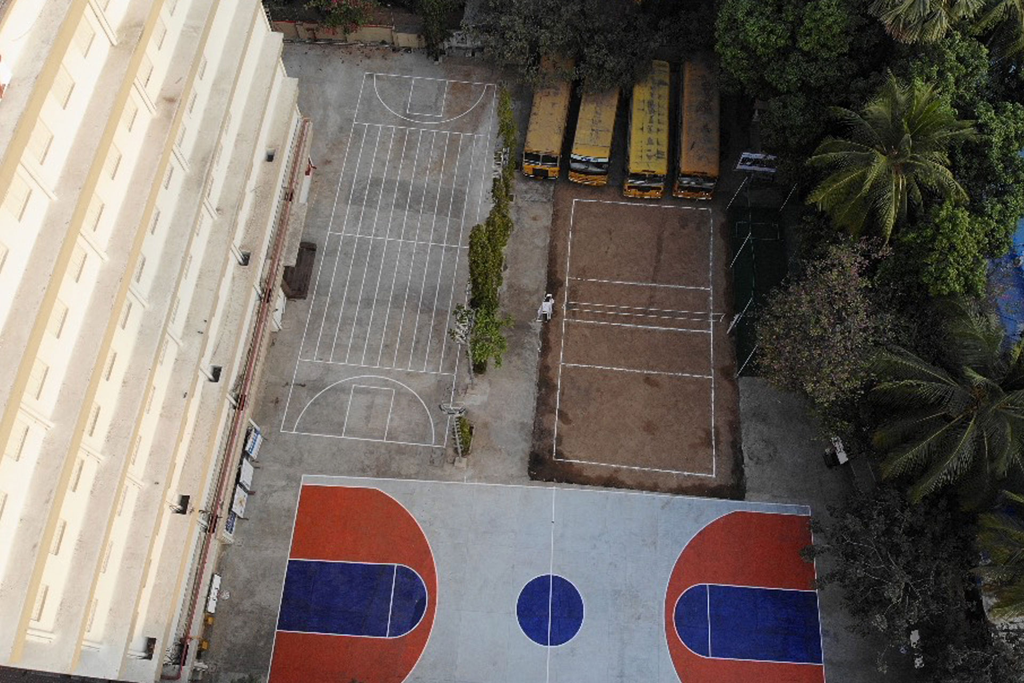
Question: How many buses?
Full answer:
The number of buses here is 4.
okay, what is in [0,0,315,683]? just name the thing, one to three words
building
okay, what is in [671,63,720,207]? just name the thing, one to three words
bus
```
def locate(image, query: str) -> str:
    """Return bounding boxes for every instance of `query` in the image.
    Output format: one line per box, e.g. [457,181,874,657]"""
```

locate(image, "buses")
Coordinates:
[520,41,578,182]
[566,44,616,188]
[623,62,670,205]
[671,63,720,207]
